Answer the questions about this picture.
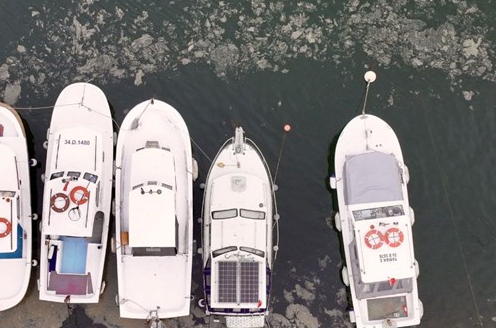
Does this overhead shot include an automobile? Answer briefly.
No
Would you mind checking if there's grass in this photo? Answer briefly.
No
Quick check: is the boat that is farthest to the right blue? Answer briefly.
No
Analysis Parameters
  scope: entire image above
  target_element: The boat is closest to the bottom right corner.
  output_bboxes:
[330,113,425,328]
